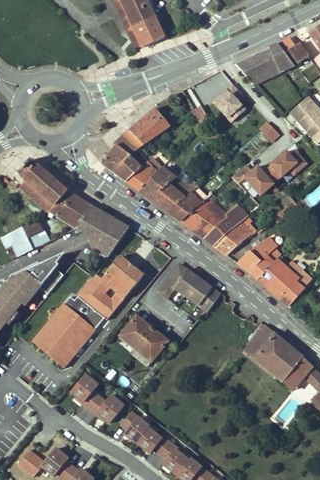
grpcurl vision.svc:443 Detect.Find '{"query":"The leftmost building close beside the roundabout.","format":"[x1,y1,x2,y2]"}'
[20,162,68,212]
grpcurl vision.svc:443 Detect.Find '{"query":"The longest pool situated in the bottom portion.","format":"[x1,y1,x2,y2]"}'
[270,384,318,428]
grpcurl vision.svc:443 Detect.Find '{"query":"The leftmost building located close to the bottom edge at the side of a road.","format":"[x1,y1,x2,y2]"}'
[14,451,45,480]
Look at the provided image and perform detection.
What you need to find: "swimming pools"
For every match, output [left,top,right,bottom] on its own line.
[304,184,320,208]
[118,376,132,386]
[270,384,318,428]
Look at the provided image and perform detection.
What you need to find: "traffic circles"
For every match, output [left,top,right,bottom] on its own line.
[10,70,96,154]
